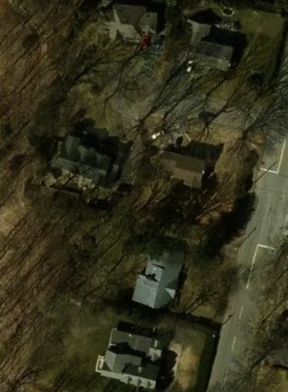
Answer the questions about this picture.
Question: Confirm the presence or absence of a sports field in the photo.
No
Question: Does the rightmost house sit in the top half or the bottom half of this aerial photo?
top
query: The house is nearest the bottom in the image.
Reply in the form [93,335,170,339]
[96,330,164,390]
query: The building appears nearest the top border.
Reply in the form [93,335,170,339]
[105,2,159,39]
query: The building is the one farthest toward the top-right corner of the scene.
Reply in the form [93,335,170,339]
[188,16,236,62]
